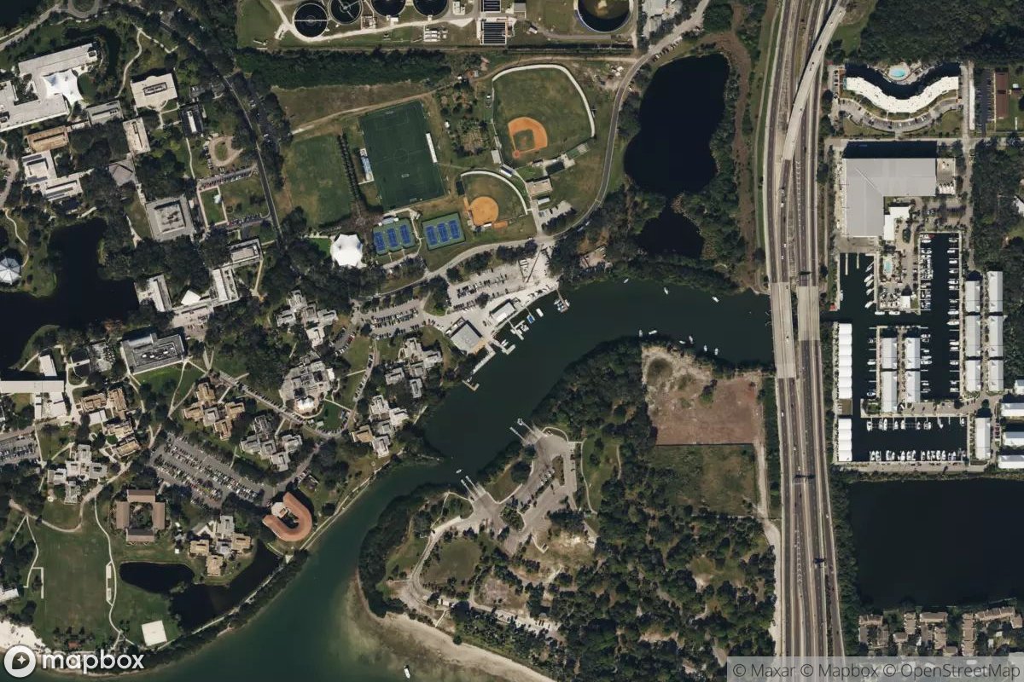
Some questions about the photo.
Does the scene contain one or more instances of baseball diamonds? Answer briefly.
Yes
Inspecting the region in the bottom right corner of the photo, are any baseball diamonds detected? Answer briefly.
No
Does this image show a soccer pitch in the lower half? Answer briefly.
No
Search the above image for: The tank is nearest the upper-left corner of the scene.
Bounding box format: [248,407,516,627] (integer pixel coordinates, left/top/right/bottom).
[293,3,328,37]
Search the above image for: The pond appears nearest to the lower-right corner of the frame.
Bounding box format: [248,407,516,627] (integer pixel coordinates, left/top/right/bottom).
[848,478,1024,608]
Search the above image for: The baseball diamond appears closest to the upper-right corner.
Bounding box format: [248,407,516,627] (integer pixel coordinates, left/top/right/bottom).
[492,64,595,163]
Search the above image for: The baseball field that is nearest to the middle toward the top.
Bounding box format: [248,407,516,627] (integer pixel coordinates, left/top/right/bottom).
[461,169,527,225]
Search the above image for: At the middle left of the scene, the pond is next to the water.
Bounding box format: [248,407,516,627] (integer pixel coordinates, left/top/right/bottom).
[0,218,139,370]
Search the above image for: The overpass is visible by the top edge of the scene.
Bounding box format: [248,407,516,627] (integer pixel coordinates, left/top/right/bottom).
[783,0,850,162]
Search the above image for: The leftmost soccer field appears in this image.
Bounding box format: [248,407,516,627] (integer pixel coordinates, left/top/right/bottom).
[358,100,446,212]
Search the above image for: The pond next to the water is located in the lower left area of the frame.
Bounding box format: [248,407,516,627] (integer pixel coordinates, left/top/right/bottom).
[120,539,281,633]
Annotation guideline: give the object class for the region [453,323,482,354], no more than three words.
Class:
building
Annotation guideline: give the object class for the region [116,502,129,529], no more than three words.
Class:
building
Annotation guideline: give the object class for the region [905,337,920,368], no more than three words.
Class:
house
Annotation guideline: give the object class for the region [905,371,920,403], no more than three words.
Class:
house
